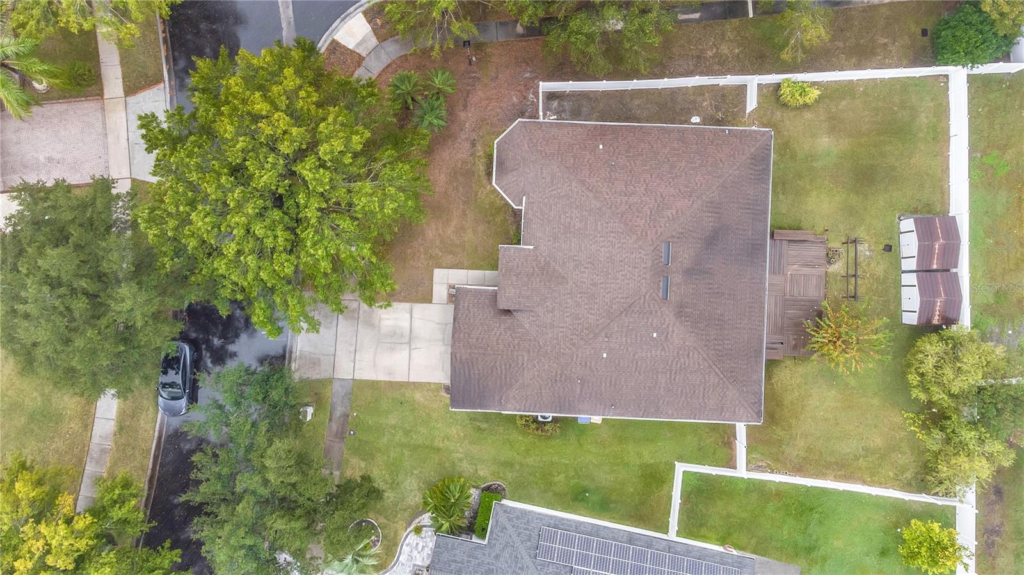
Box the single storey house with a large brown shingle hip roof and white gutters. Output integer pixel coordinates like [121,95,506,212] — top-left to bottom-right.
[449,118,774,425]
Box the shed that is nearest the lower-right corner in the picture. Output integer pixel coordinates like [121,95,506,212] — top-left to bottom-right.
[900,271,966,325]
